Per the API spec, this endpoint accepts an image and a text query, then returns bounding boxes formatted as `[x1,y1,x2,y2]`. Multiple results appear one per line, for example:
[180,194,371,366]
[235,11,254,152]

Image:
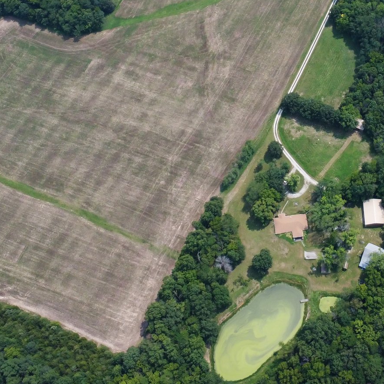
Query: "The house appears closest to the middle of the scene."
[273,213,308,244]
